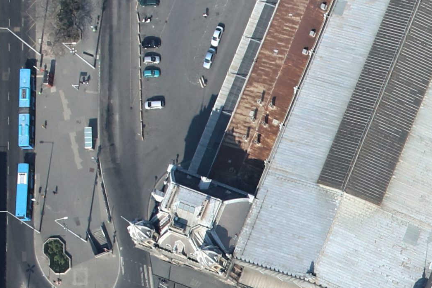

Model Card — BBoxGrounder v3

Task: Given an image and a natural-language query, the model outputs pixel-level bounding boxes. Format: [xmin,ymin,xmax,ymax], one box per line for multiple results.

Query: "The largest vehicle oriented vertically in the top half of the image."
[18,68,35,150]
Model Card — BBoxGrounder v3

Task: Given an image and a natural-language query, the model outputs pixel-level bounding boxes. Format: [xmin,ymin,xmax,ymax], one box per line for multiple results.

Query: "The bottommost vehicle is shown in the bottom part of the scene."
[16,163,33,222]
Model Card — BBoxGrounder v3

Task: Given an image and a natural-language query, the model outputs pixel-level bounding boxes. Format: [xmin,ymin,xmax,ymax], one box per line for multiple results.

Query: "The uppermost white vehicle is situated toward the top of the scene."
[211,26,225,49]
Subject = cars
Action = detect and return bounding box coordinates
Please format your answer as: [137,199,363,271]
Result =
[140,0,161,8]
[211,26,225,49]
[144,68,162,78]
[144,54,162,64]
[142,39,163,50]
[203,49,217,70]
[144,100,165,110]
